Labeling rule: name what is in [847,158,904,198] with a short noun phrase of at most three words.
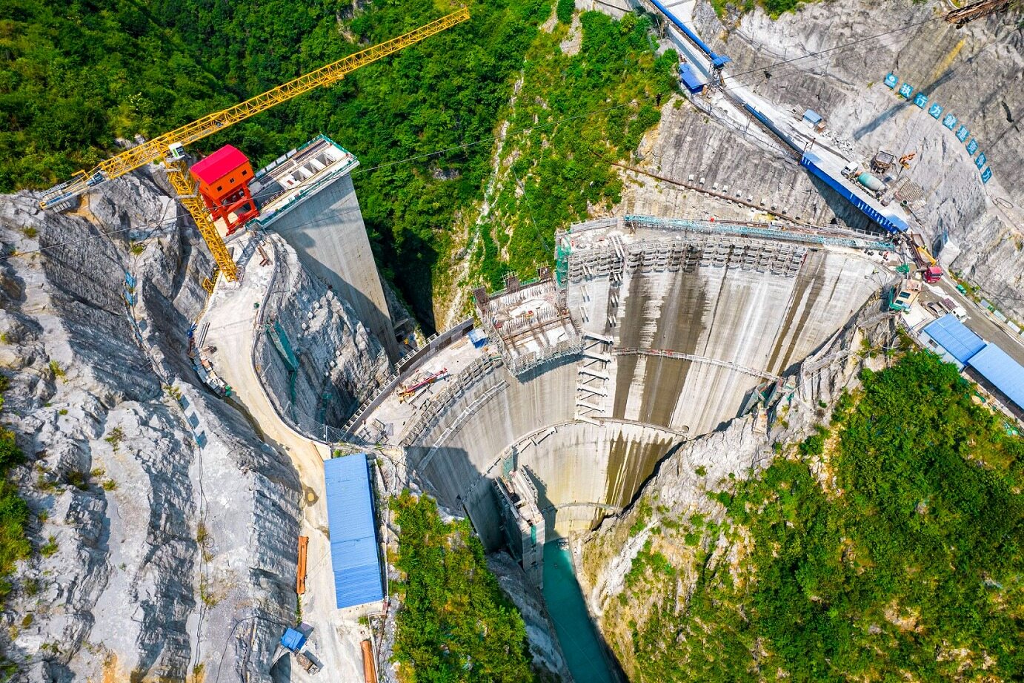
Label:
truck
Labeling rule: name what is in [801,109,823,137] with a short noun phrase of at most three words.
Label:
shed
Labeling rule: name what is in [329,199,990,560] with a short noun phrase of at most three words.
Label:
dam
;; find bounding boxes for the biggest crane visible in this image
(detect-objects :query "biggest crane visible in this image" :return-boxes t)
[33,1,473,291]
